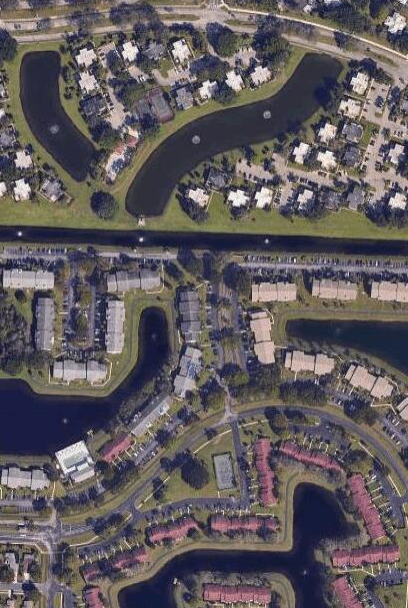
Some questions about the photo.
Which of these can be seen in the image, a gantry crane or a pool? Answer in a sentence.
The one in the frame is a pool.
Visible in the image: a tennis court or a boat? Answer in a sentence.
There is a tennis court in the scene.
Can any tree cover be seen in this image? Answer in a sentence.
Yes, tree cover can be seen from above here.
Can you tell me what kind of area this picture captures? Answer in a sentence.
This image shows a residential area.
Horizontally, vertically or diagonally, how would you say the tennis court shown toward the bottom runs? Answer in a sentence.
What the image shows is the tennis court shown toward the bottom lying vertically.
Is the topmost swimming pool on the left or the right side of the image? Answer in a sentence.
The topmost swimming pool is on the left side of the image.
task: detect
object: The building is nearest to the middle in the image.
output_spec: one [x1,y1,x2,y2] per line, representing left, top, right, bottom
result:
[179,292,203,343]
